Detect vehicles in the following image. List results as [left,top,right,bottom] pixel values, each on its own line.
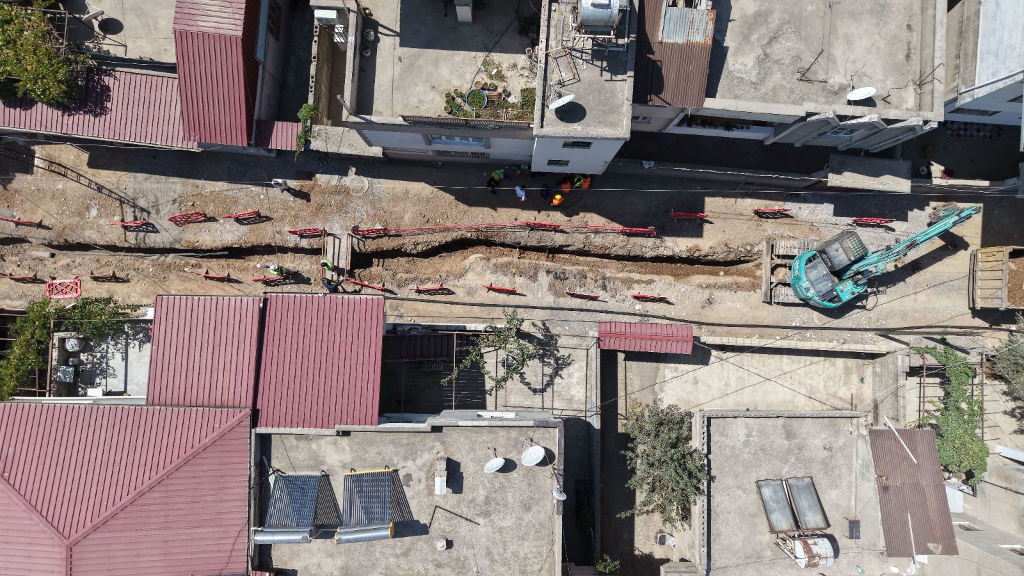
[959,249,1024,307]
[760,192,988,309]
